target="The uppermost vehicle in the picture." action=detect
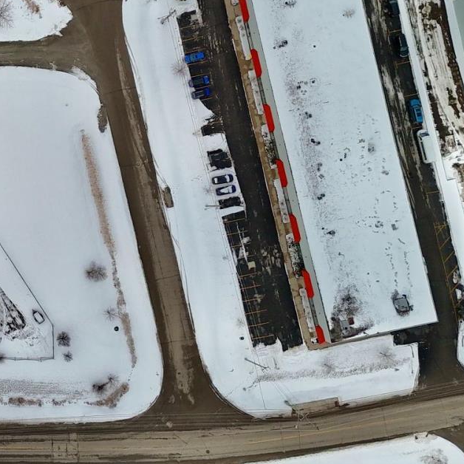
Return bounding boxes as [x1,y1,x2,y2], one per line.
[387,0,402,16]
